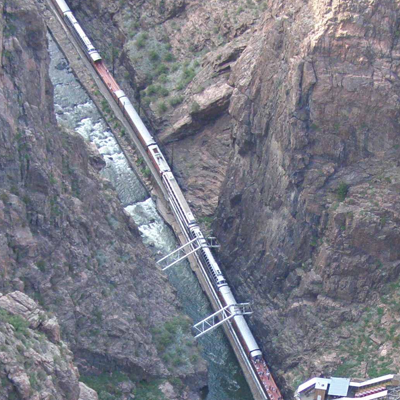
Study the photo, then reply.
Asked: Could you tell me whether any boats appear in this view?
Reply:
No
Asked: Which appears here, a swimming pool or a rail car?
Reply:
rail car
